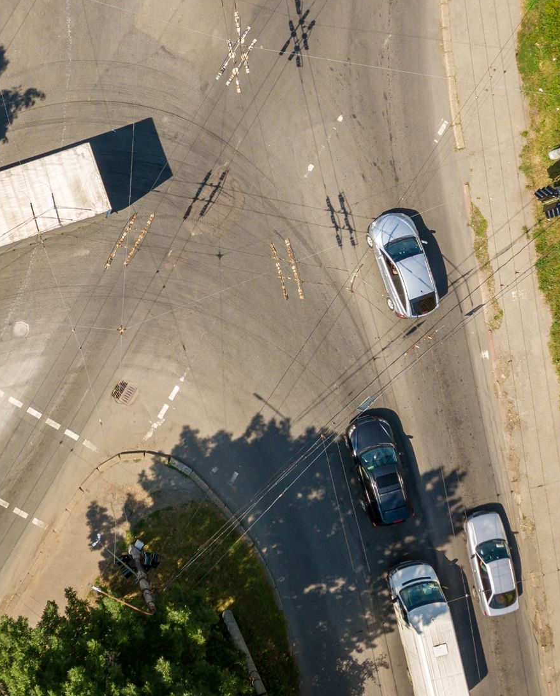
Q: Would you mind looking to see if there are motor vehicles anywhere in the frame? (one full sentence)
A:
Yes, the picture does show a motor vehicle.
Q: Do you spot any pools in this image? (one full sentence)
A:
No, no pool is visible in the scene.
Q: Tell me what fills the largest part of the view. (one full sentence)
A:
Most of the picture is covered by paved ground.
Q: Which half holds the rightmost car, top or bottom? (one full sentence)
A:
The rightmost car sits in the bottom half of the picture.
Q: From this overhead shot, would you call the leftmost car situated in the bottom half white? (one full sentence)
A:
No, the leftmost car situated in the bottom half is actually black.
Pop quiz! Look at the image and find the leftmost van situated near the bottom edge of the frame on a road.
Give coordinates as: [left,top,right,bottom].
[389,561,473,696]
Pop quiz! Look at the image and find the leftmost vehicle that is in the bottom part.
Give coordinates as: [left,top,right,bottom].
[348,413,415,524]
